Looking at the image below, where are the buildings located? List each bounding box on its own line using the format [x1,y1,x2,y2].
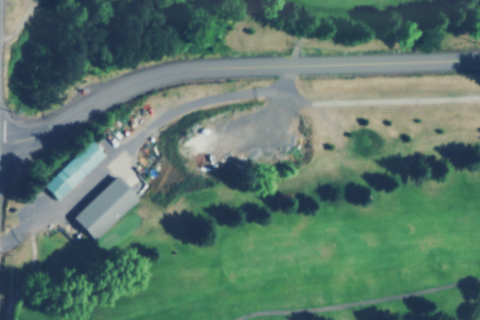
[76,178,139,242]
[46,143,107,202]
